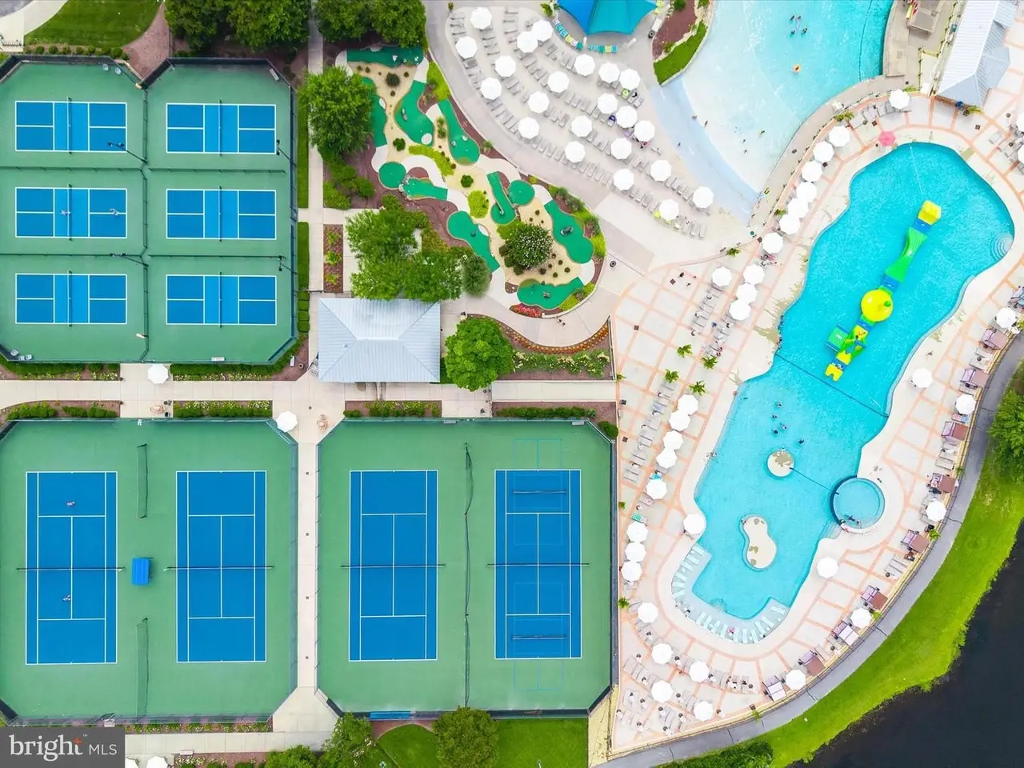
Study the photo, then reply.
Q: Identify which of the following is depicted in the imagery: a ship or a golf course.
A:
golf course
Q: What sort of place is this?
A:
sports ground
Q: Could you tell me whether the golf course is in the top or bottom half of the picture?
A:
top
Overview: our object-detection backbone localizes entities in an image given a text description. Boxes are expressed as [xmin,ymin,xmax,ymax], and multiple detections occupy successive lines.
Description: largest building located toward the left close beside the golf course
[318,298,441,382]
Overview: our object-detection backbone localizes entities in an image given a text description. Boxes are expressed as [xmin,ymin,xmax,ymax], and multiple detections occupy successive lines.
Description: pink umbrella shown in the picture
[873,130,895,148]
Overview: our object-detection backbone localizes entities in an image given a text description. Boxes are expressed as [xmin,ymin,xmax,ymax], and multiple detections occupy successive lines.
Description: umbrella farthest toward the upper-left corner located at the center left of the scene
[149,363,171,384]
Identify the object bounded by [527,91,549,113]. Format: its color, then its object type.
white umbrella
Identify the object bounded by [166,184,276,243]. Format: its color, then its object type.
blue sports court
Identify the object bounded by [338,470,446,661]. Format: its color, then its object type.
blue tennis court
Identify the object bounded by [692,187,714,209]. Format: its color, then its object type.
white umbrella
